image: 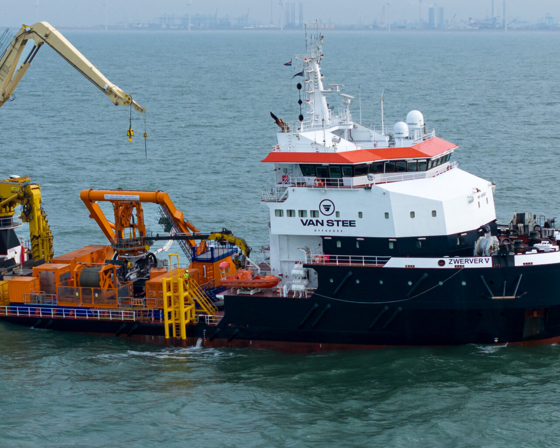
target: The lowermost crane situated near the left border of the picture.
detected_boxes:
[0,174,52,258]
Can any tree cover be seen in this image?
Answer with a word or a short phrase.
No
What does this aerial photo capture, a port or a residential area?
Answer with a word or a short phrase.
port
